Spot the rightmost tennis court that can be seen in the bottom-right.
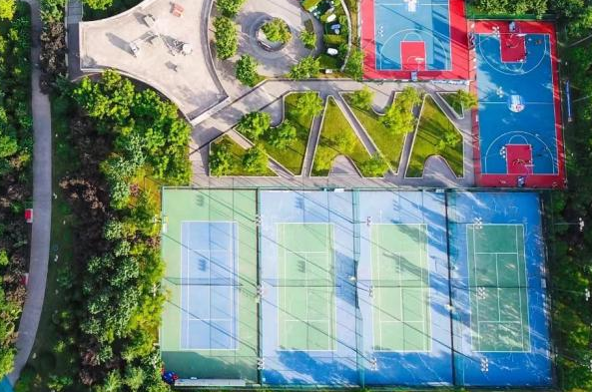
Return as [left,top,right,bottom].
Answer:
[450,193,552,387]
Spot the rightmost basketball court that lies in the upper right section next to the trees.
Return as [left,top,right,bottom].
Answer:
[471,21,568,189]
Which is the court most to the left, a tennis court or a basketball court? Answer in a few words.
tennis court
